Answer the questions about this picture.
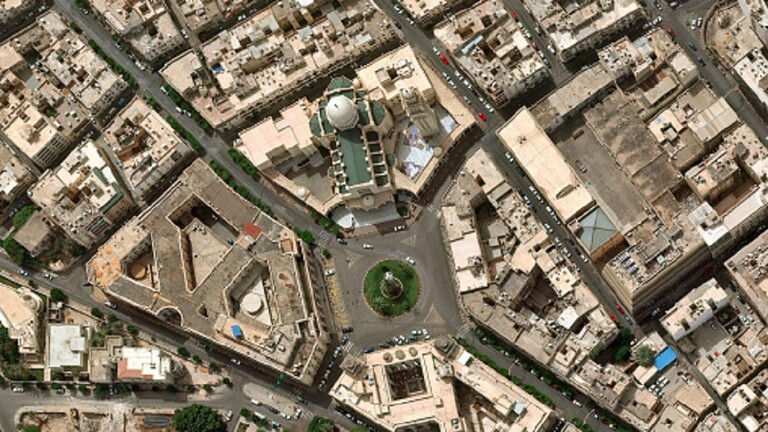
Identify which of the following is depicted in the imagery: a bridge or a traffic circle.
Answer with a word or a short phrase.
traffic circle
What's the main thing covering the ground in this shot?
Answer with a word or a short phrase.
buildings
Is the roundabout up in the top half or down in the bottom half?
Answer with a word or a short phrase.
bottom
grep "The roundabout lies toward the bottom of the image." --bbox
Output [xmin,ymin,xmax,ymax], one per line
[363,258,421,316]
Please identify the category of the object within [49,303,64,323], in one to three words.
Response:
shed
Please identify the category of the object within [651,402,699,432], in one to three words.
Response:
building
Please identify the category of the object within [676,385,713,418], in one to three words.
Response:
building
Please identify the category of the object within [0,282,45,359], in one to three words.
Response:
house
